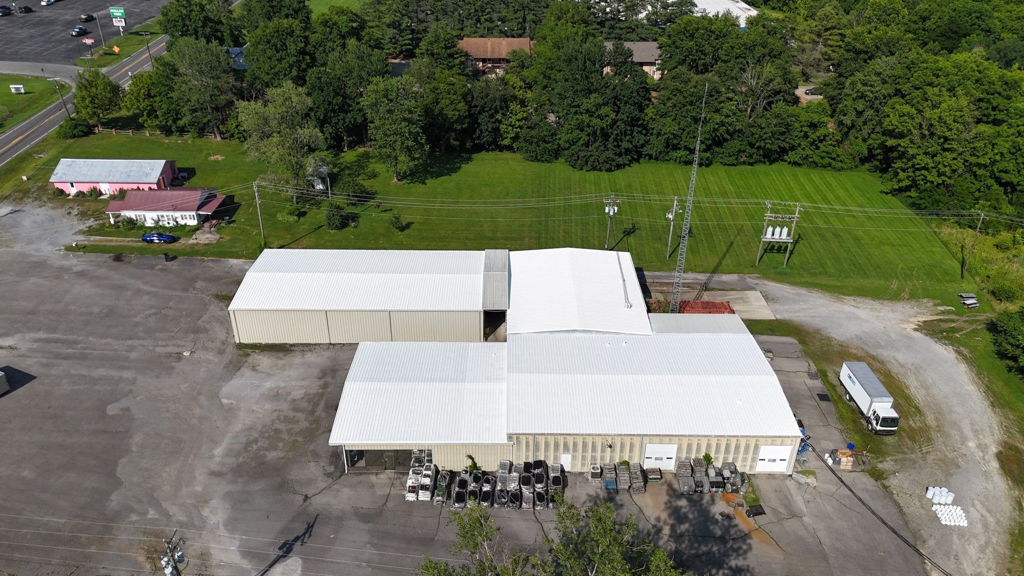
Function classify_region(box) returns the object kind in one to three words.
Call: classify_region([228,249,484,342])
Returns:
barn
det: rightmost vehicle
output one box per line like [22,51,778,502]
[841,361,905,434]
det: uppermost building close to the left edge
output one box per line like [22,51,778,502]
[45,158,179,200]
